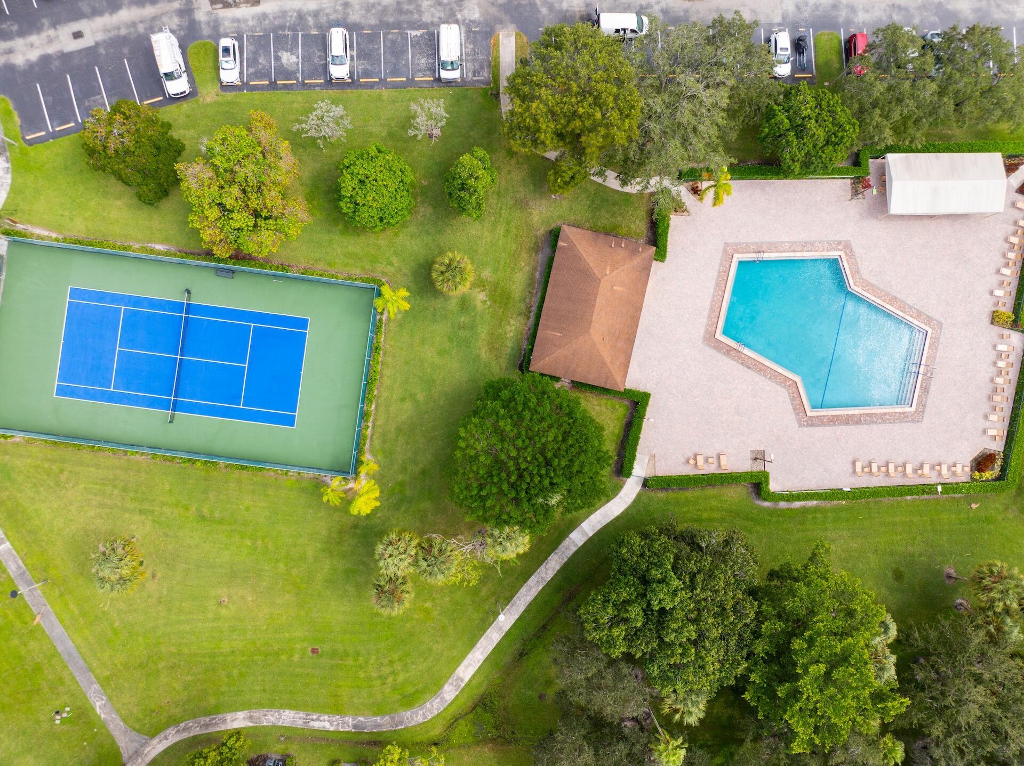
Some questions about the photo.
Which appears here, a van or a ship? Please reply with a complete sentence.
The one in the frame is a van.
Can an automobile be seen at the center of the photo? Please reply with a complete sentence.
No, the scene shows no automobile at the center of the photo.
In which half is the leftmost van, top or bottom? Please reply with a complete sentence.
The leftmost van sits in the top half of the picture.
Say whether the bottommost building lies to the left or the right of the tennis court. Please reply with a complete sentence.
It is on the right side of the tennis court that the bottommost building is positioned.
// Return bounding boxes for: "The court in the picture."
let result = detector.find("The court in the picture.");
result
[0,242,374,475]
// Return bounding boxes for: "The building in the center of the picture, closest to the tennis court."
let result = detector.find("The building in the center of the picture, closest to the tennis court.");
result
[530,224,656,391]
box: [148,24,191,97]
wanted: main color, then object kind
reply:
white van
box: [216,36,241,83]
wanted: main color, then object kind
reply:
white car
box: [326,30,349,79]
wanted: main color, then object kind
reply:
white car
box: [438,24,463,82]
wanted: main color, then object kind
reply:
white vehicle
